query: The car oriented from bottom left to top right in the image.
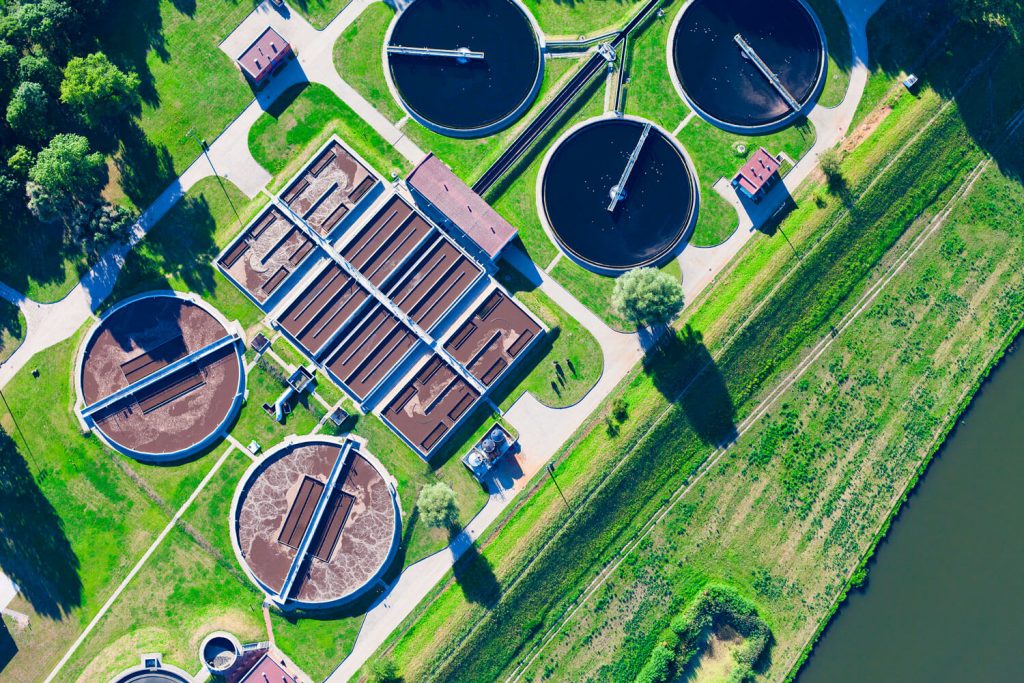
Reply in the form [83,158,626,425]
[902,72,919,87]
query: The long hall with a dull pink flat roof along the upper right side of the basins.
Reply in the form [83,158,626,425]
[405,151,518,261]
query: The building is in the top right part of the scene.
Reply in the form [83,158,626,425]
[731,147,780,197]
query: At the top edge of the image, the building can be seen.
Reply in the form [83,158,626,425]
[238,27,295,84]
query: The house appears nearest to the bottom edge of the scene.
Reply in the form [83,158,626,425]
[226,648,304,683]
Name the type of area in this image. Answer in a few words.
industrial area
